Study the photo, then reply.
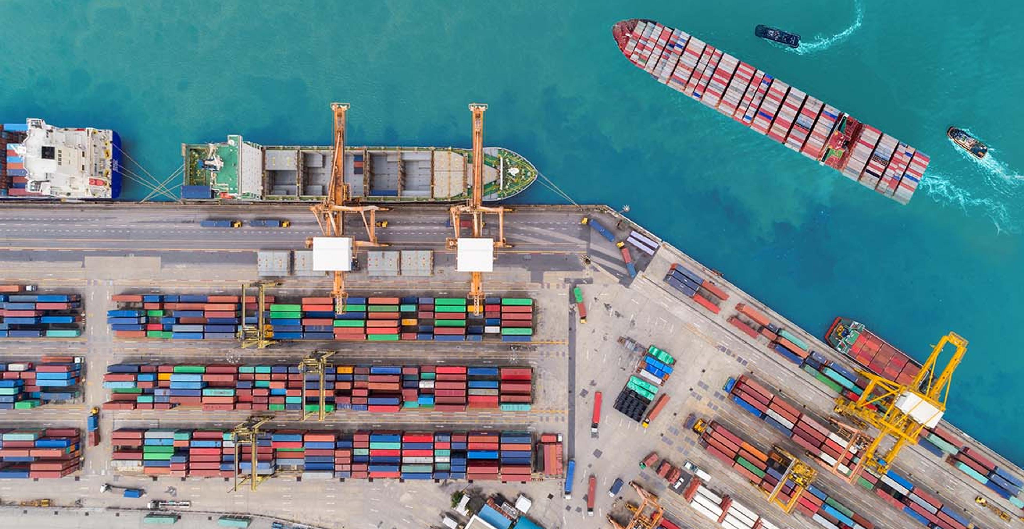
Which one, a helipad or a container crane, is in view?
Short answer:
container crane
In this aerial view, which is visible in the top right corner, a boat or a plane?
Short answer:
boat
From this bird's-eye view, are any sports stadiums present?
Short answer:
No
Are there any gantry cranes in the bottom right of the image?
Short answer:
Yes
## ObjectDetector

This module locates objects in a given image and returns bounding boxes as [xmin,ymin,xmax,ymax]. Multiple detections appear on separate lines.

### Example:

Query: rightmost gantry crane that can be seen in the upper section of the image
[446,101,513,319]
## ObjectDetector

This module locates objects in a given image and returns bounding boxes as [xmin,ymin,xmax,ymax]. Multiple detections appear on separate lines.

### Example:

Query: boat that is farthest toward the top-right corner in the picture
[942,127,987,161]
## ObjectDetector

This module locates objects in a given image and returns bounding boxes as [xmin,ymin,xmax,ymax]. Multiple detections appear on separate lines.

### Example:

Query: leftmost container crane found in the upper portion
[304,100,392,320]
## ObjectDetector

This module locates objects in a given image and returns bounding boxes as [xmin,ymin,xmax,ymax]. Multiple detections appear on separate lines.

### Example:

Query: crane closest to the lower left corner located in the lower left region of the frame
[231,416,278,494]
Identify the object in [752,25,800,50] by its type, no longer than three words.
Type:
boat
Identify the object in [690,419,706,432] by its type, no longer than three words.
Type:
vehicle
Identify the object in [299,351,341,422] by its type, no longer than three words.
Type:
container crane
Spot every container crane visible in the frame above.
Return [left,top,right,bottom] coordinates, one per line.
[304,100,392,320]
[801,412,882,484]
[231,416,278,494]
[601,476,669,529]
[827,329,971,469]
[446,101,513,319]
[239,282,285,349]
[299,351,341,422]
[741,439,822,515]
